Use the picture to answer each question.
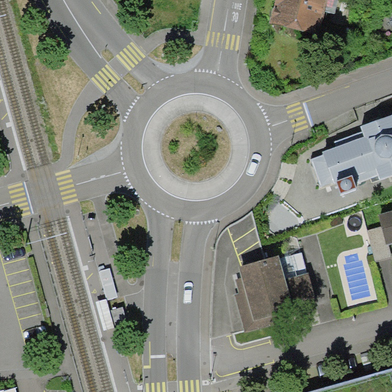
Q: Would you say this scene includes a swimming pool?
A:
Yes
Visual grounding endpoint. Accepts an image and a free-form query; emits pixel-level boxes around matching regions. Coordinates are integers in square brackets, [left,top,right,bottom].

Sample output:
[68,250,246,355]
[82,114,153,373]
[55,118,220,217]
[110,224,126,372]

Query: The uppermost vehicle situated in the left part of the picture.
[4,248,26,260]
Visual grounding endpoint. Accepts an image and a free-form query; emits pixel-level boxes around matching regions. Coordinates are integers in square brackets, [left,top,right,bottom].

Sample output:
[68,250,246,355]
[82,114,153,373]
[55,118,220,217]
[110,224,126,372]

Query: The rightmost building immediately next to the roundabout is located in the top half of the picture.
[311,116,392,197]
